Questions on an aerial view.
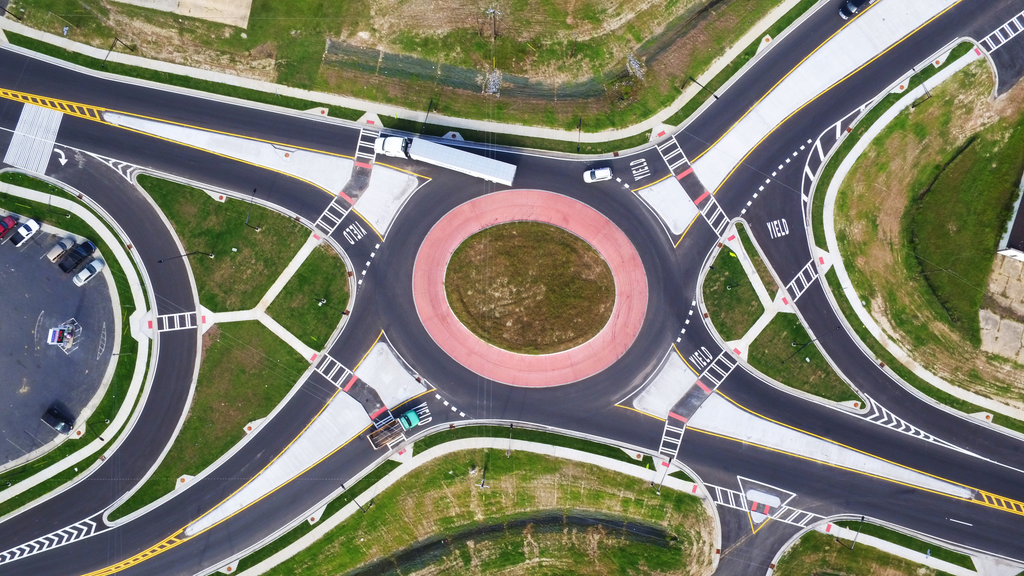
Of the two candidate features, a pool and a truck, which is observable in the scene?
truck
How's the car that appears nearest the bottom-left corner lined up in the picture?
diagonally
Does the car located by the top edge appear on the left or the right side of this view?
right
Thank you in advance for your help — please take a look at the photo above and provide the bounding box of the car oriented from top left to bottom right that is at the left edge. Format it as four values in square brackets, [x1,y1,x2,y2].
[40,407,73,433]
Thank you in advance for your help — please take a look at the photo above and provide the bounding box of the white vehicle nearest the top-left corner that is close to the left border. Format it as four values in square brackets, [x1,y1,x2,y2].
[9,216,44,248]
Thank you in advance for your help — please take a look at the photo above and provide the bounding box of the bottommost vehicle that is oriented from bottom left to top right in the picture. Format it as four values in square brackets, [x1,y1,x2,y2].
[362,408,424,449]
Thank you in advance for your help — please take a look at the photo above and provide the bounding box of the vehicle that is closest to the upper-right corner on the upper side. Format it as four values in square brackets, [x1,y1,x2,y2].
[838,0,869,20]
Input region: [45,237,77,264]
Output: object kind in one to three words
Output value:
car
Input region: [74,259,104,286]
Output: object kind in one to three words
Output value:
car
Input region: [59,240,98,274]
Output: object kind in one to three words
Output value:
truck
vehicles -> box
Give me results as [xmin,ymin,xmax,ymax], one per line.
[380,128,516,185]
[362,408,424,449]
[838,0,869,20]
[74,259,104,286]
[582,168,613,184]
[59,240,98,274]
[0,216,19,243]
[40,407,73,433]
[9,216,44,248]
[45,237,77,264]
